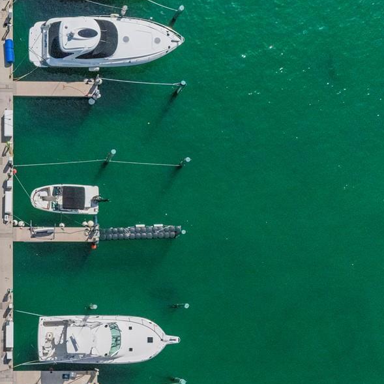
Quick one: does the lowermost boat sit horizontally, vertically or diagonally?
horizontally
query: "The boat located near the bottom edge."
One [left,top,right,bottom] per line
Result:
[14,311,180,368]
